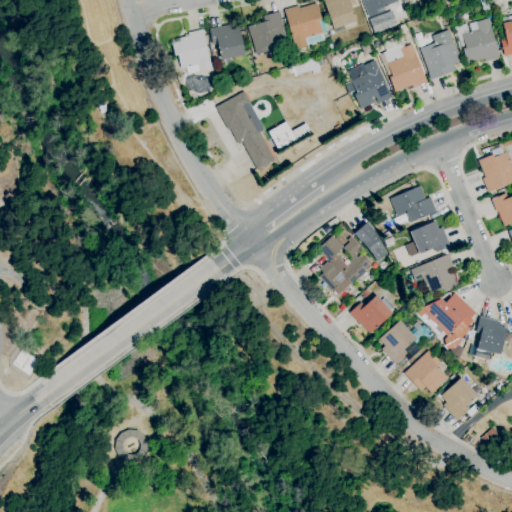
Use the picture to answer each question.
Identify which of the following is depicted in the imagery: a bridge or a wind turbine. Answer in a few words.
bridge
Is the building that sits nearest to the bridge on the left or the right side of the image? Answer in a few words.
left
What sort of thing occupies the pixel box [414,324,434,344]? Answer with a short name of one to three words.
swimming pool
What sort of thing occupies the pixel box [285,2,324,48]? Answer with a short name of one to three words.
house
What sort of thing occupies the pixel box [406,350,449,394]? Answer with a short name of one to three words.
house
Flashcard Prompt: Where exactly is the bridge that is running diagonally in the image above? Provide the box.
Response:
[30,256,223,410]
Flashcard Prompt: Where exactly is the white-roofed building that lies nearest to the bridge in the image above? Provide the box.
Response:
[12,352,36,375]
